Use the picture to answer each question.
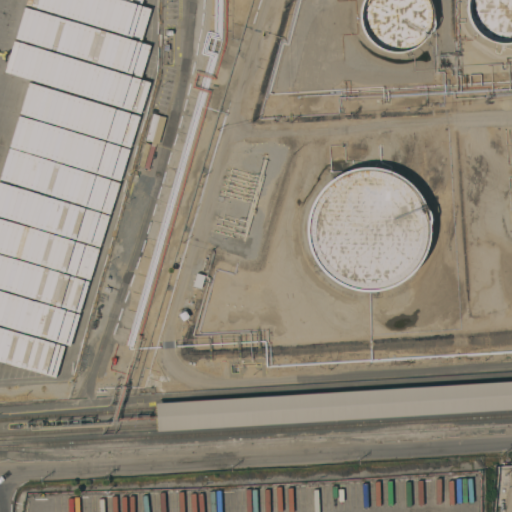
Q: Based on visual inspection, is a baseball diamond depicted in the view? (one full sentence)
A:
No, I find no baseball diamond anywhere in the image.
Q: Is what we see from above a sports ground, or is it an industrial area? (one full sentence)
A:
This looks like an industrial area.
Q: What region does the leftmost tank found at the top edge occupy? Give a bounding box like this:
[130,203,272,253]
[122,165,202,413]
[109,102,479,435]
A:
[361,0,438,56]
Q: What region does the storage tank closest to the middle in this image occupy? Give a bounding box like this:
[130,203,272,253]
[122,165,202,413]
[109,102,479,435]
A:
[306,166,434,293]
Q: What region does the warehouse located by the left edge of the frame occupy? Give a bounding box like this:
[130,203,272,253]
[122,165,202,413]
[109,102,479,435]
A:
[0,0,154,378]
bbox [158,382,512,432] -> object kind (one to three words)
shed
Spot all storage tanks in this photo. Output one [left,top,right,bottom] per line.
[306,166,434,293]
[361,0,438,56]
[466,0,512,47]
